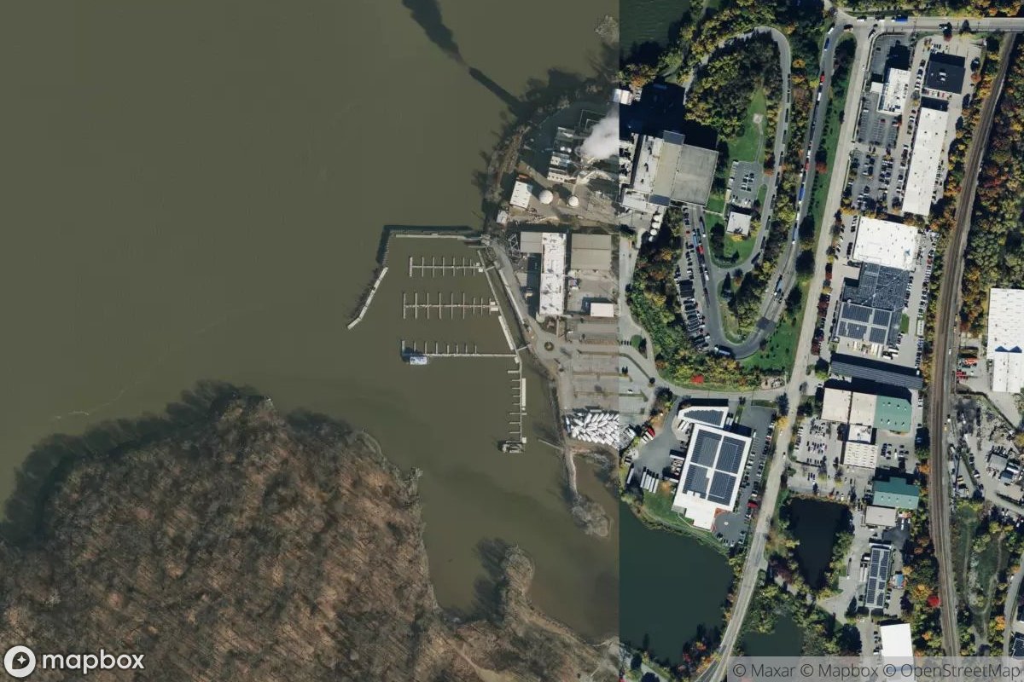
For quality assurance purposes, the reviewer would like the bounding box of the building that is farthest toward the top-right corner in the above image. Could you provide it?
[925,60,966,94]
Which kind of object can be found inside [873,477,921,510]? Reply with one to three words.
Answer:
building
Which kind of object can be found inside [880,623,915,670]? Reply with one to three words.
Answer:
building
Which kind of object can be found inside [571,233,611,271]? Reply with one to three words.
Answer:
shed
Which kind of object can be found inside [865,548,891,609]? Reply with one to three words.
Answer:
shed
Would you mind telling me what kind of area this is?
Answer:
port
